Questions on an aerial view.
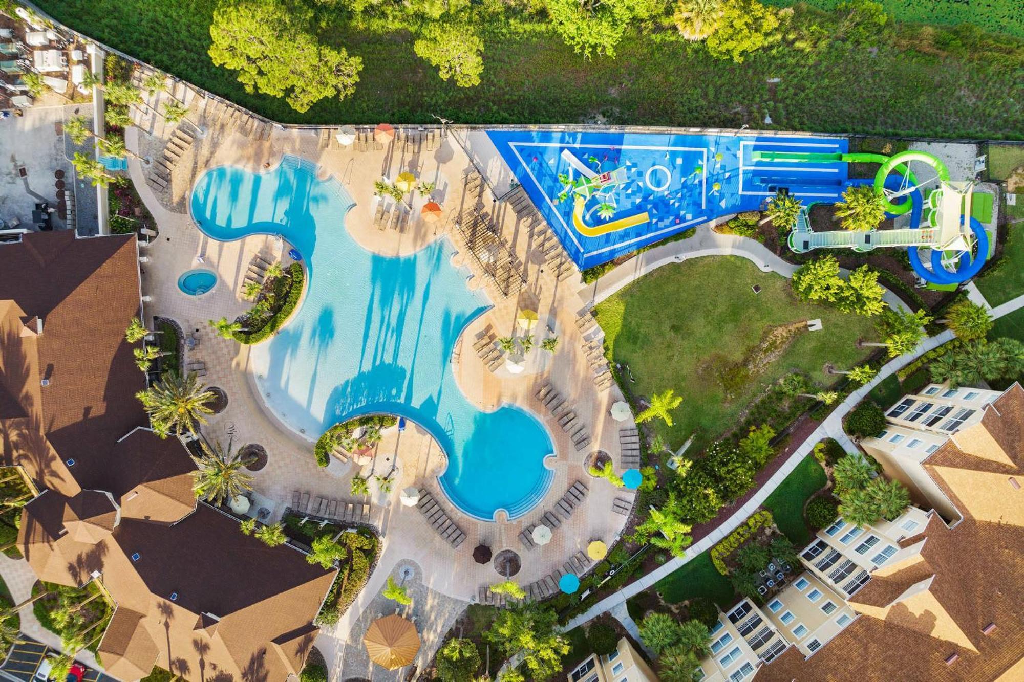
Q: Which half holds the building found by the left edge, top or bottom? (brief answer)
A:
bottom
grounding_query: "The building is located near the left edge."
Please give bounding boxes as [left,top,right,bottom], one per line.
[0,229,340,682]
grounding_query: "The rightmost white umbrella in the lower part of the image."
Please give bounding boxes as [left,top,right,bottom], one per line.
[610,401,631,421]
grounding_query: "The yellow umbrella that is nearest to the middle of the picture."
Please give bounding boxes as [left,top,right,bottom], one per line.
[517,309,538,330]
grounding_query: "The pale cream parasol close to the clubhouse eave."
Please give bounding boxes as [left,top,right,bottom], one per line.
[230,494,252,514]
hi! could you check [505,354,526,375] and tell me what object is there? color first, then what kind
white umbrella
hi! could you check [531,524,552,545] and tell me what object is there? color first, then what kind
white umbrella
